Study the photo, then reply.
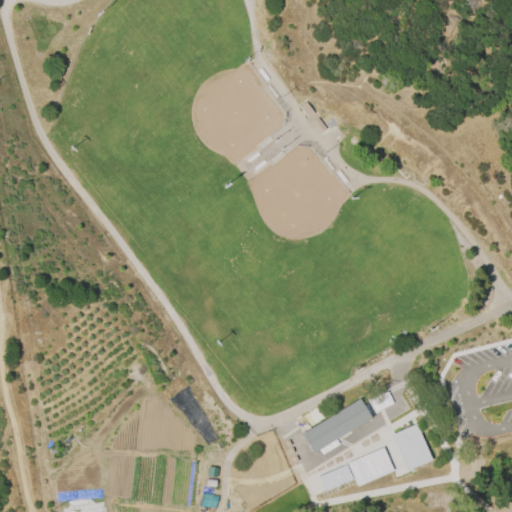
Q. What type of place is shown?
sports ground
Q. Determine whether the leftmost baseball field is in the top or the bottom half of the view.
top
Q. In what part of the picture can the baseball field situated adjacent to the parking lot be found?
center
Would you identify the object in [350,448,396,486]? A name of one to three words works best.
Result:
building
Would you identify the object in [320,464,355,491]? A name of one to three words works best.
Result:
building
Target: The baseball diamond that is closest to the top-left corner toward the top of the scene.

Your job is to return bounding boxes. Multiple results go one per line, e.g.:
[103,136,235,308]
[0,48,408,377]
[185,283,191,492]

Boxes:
[49,0,287,240]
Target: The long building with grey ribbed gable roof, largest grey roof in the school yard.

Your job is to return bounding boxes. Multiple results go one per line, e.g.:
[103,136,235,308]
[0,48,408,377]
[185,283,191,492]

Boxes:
[305,398,372,452]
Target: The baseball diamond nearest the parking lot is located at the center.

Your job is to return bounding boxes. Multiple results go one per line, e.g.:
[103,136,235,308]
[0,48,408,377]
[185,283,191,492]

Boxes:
[128,147,468,414]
